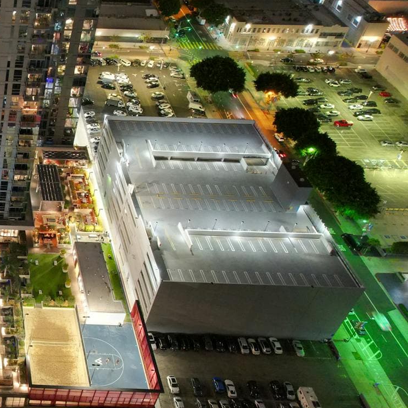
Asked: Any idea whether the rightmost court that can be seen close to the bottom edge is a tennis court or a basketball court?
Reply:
basketball court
